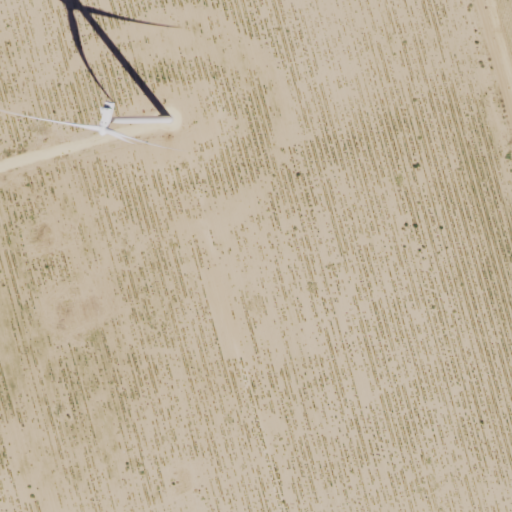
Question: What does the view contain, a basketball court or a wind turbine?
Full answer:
Visible in the photo is a wind turbine.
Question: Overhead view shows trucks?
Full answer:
No, the picture doesn't show any truck.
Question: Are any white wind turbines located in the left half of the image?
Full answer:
Yes, there is a white wind turbine in the left half of the image.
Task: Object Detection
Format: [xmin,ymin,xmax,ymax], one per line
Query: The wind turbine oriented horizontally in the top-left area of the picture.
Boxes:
[1,101,184,147]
